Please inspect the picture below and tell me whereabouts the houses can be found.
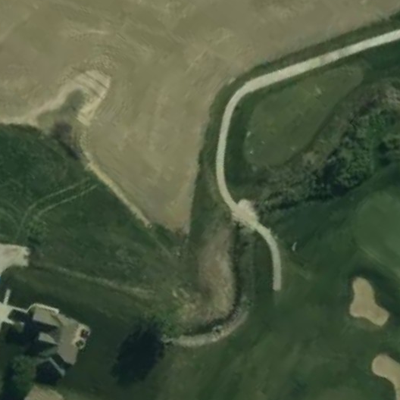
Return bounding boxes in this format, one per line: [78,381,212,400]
[22,382,62,400]
[28,308,82,383]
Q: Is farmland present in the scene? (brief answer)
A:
Yes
